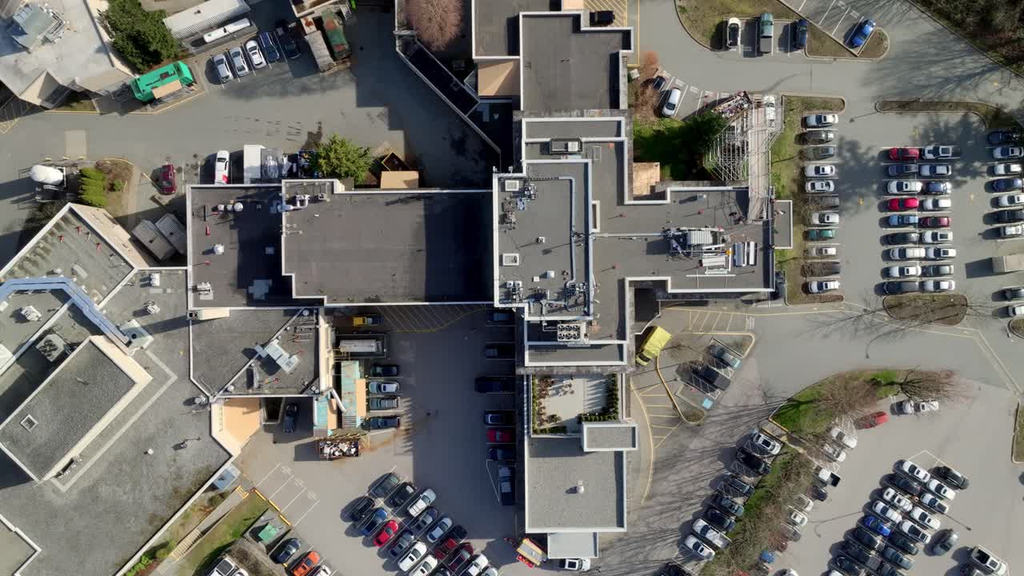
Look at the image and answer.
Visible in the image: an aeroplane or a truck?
truck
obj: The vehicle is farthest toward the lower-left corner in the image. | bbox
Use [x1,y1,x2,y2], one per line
[212,553,246,576]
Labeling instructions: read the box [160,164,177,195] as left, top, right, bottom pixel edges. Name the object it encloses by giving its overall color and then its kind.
red car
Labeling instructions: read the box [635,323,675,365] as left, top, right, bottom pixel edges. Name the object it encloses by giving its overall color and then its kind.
yellow truck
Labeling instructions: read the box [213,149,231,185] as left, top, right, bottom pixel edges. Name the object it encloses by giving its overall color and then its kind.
white vehicle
